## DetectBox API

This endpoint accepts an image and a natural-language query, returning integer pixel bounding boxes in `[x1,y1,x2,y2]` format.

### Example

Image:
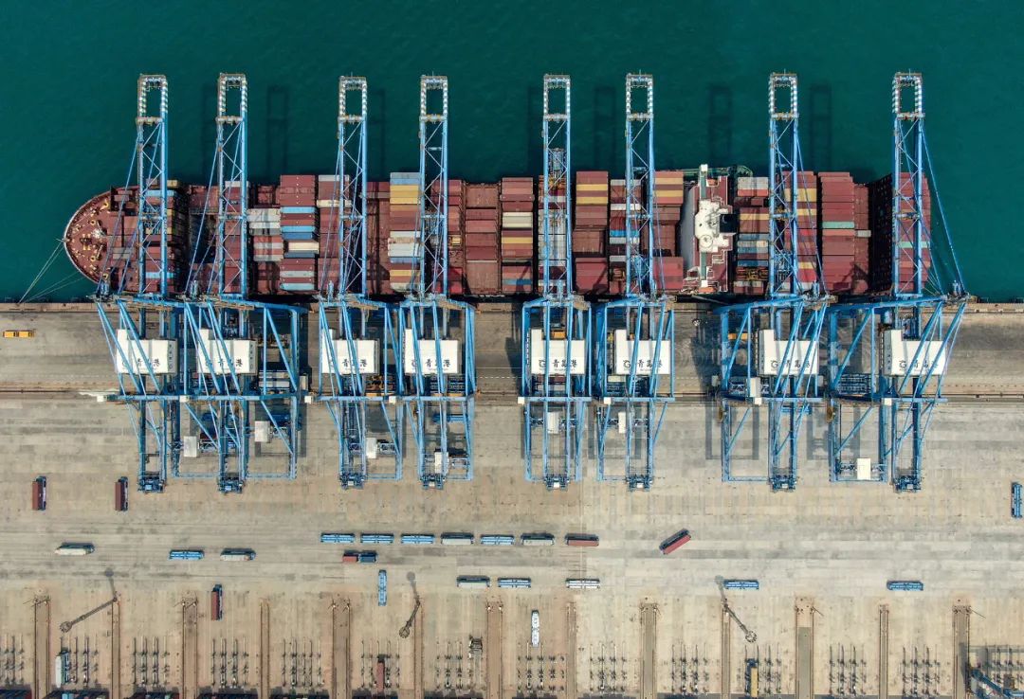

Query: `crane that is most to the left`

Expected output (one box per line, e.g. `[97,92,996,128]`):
[83,67,240,489]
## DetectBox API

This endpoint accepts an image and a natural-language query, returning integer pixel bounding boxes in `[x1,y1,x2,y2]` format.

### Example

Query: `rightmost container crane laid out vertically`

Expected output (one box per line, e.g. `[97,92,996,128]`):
[800,69,979,489]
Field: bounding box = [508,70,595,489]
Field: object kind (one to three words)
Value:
container crane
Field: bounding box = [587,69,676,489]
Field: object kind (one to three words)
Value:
container crane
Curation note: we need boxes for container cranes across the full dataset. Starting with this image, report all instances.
[800,69,979,489]
[587,69,676,489]
[697,69,839,489]
[310,68,416,489]
[394,67,490,489]
[508,70,595,489]
[174,70,323,489]
[83,67,240,489]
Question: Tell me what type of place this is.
port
